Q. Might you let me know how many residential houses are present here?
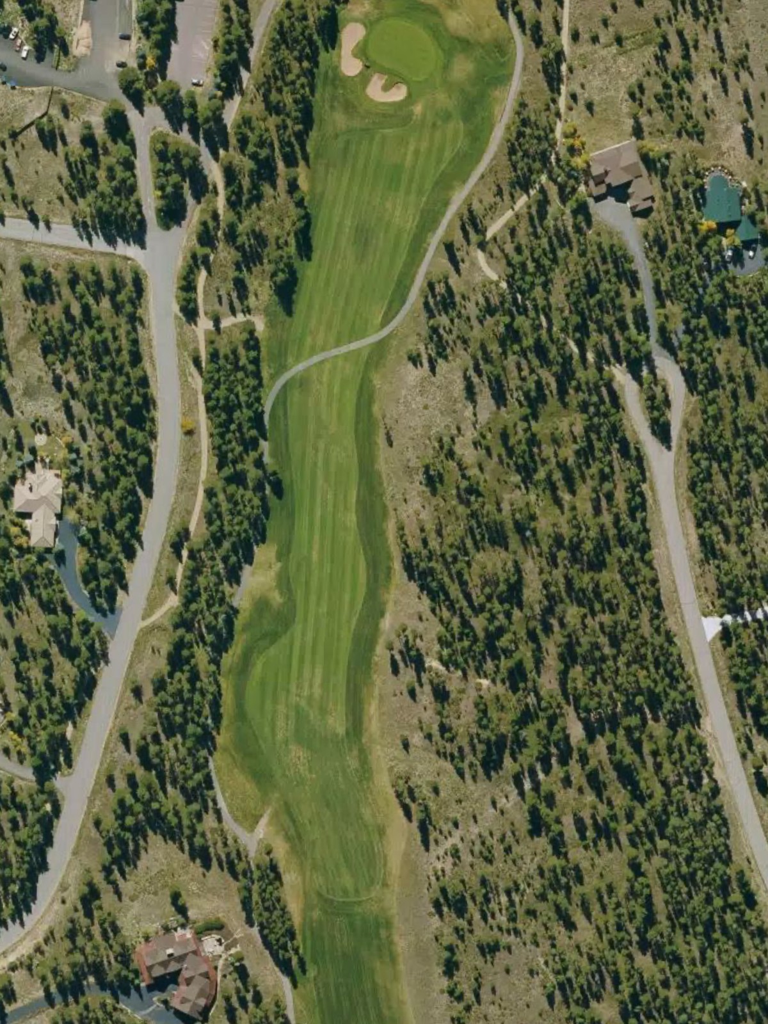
4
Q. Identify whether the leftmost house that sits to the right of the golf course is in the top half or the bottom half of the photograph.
top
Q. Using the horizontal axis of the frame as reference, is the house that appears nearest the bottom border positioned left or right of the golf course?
on its left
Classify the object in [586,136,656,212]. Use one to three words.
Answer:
house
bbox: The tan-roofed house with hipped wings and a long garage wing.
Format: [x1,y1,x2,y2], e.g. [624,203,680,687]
[13,461,62,547]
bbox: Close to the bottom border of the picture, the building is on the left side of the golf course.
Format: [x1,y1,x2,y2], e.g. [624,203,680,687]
[135,928,217,1019]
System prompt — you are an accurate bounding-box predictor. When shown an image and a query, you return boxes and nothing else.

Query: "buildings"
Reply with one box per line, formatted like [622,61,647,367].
[135,928,217,1019]
[705,172,742,222]
[13,461,62,547]
[586,136,656,212]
